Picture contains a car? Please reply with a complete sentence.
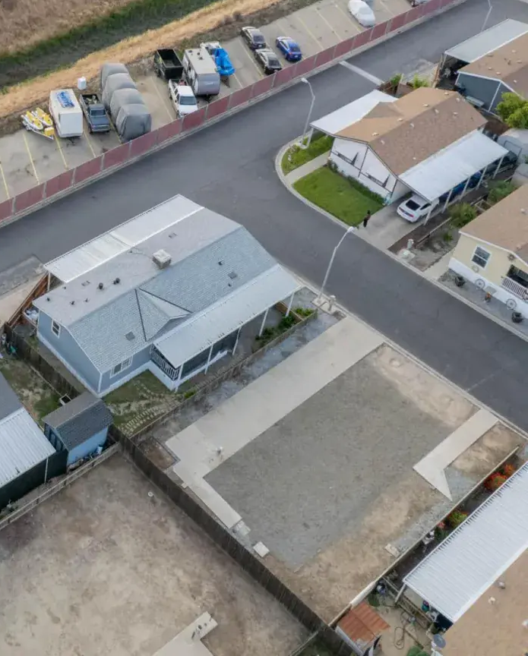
Yes, there is a car in the image.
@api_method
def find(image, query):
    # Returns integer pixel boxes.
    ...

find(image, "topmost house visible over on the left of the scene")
[28,193,304,396]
